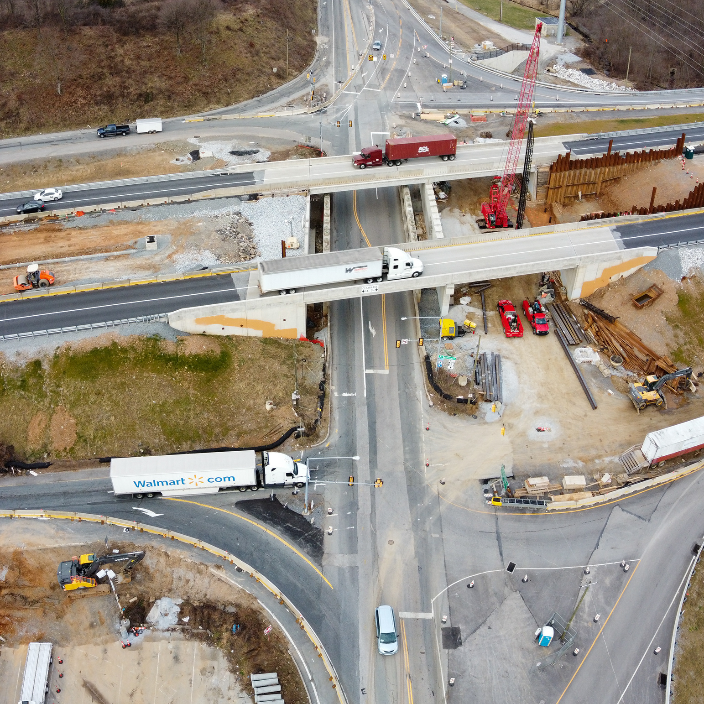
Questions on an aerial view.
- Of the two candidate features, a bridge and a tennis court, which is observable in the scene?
bridge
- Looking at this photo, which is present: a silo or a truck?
truck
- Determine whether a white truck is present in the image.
Yes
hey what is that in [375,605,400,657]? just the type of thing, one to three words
car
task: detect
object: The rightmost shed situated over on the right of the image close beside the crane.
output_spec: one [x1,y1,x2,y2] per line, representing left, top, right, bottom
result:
[534,17,568,36]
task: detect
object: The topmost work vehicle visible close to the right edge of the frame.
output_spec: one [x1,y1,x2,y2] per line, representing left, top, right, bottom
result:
[626,364,696,412]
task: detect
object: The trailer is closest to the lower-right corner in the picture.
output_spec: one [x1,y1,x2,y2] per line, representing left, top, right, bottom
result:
[640,416,704,471]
